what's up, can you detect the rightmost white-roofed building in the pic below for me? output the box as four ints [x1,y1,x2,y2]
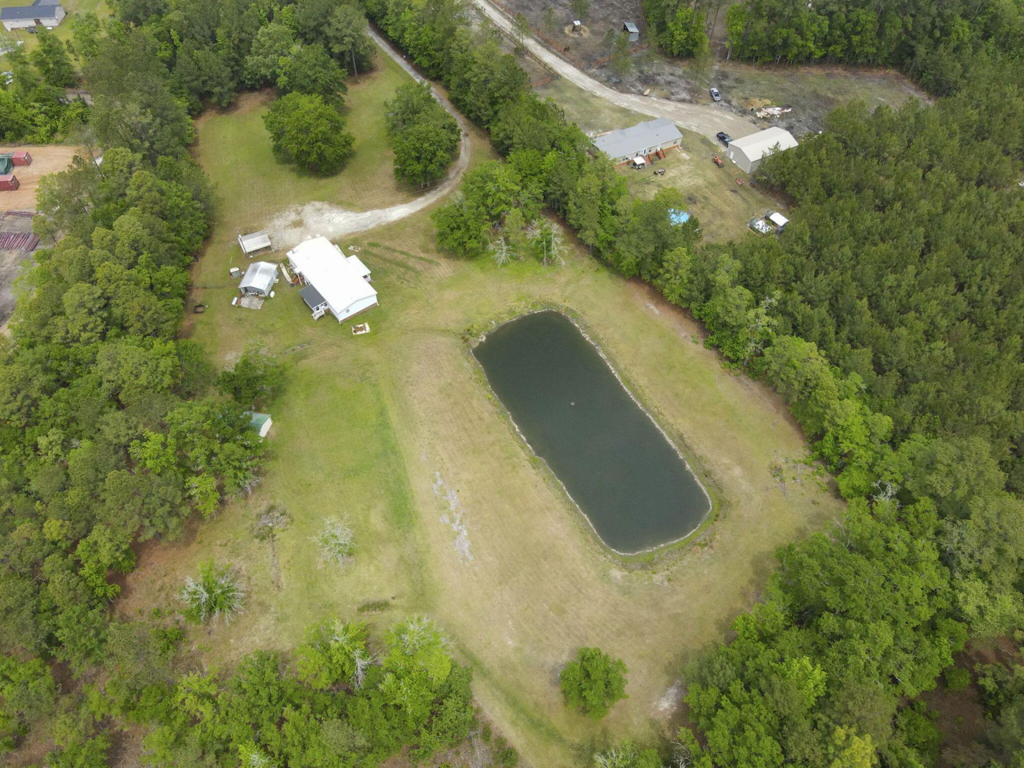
[724,126,805,174]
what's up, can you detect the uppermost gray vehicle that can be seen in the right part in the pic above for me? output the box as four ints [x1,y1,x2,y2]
[709,88,723,100]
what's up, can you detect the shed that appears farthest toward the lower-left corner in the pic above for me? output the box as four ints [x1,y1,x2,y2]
[244,407,273,437]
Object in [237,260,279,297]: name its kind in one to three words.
building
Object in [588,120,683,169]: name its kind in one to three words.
house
